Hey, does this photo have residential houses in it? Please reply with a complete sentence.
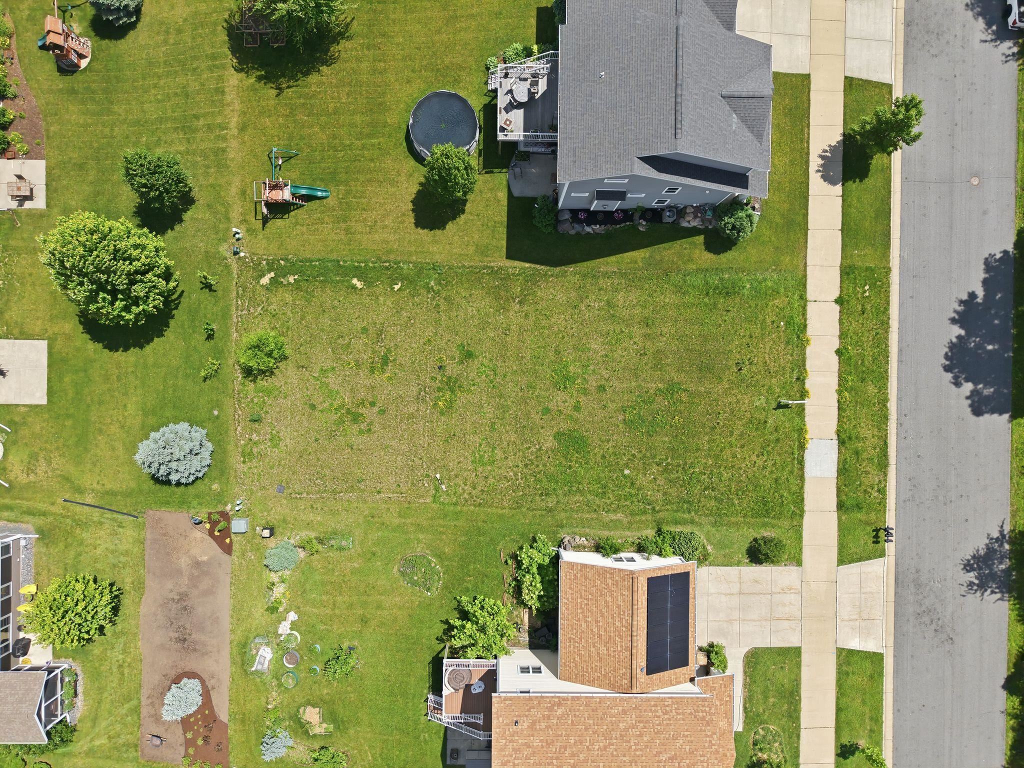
Yes, a residential house is visible in the scene.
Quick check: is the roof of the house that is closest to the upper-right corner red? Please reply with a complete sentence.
No, the roof of the house that is closest to the upper-right corner is gray.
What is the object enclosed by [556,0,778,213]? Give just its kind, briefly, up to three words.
house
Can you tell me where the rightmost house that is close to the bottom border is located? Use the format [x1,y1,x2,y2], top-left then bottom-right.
[491,544,741,768]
